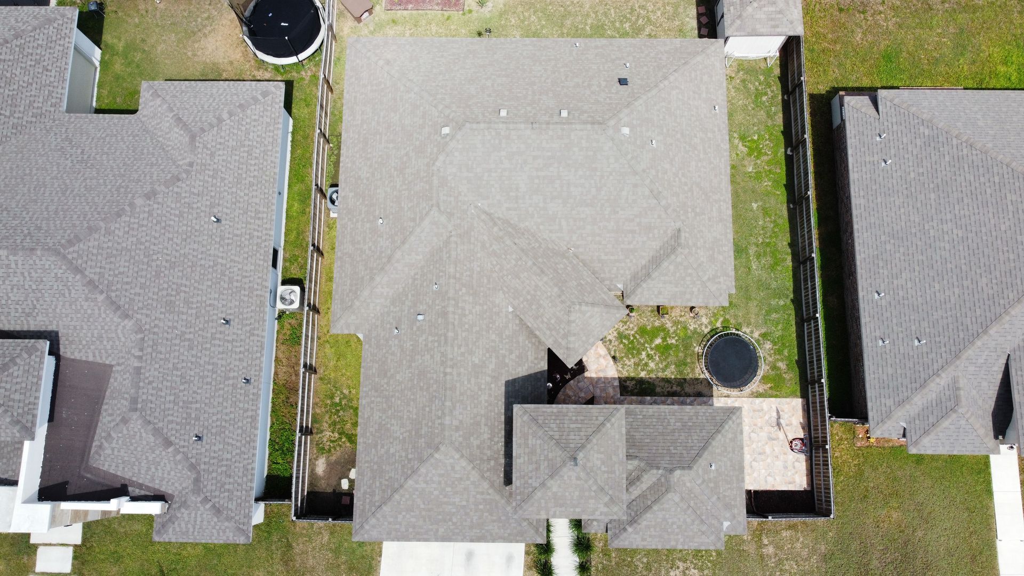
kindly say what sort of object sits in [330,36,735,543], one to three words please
house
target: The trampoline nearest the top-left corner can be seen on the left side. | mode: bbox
[232,0,324,70]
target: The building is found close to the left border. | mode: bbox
[0,7,295,543]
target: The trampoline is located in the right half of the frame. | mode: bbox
[702,331,764,392]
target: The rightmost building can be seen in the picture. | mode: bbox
[813,87,1024,458]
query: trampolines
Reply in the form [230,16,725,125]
[702,331,764,392]
[232,0,324,70]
